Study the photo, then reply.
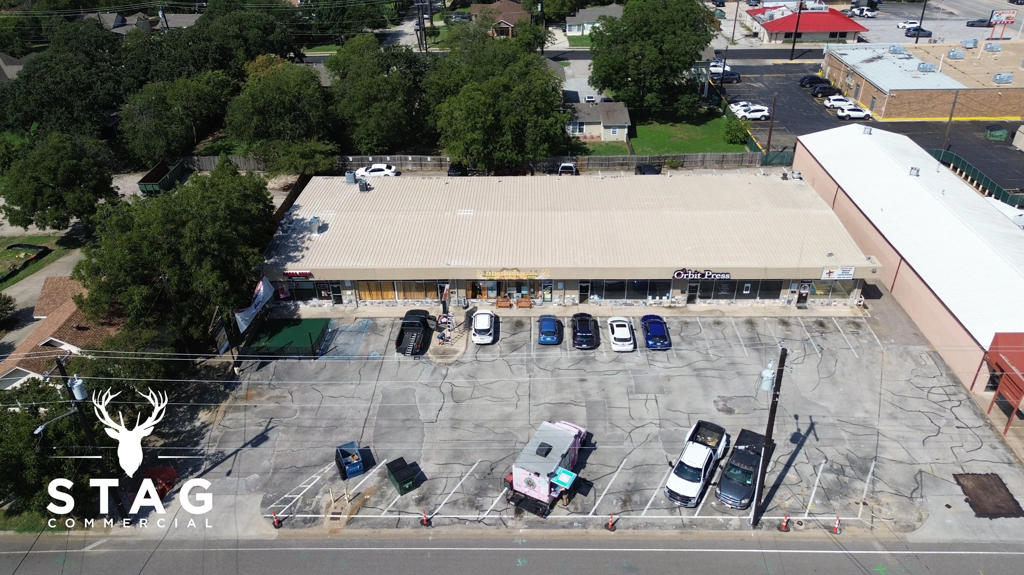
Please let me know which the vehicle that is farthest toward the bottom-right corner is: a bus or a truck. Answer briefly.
truck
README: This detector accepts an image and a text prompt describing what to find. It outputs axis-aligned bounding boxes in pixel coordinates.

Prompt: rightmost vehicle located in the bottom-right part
[718,427,778,508]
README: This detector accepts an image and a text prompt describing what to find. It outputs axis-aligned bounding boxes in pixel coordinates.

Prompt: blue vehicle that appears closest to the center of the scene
[534,310,561,343]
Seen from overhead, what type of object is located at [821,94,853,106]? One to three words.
vehicle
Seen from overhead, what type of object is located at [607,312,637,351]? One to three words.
car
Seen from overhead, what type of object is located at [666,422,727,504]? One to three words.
truck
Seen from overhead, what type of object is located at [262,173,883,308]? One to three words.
building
